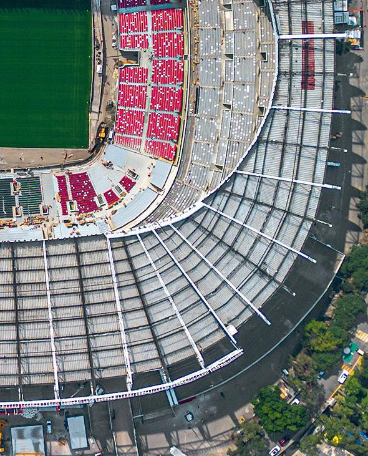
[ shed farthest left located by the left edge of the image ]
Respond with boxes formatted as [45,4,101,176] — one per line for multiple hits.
[10,421,44,456]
